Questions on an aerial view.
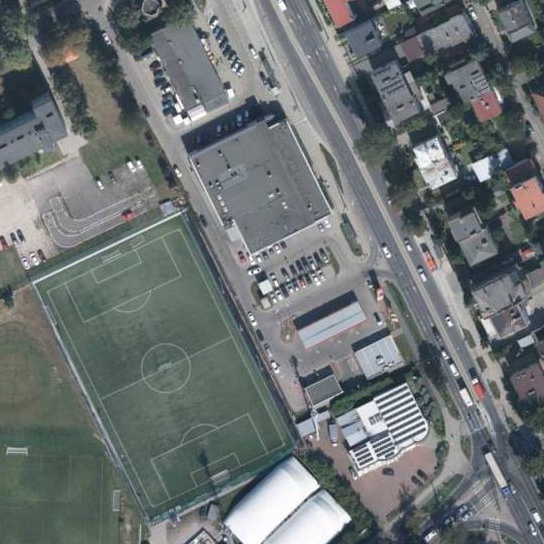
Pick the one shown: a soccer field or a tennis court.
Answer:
soccer field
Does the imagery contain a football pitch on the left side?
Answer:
Yes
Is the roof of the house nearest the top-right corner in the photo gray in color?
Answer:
Yes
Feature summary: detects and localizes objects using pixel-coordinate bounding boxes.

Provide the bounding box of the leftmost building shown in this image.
[0,116,44,172]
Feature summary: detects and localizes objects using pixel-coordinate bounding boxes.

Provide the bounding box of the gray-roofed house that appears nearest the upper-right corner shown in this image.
[497,0,535,43]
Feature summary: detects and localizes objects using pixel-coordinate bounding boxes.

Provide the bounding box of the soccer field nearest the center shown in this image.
[34,213,297,522]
